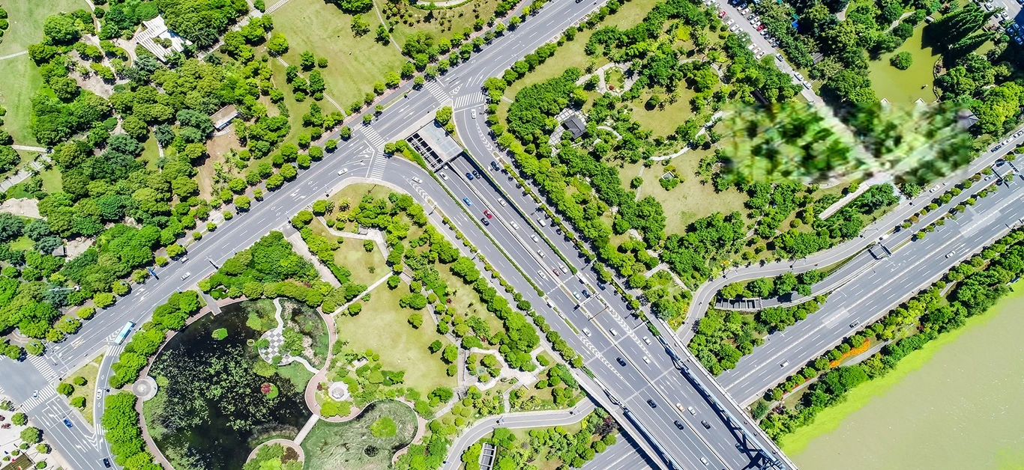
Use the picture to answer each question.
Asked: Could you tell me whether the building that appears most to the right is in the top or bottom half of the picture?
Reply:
top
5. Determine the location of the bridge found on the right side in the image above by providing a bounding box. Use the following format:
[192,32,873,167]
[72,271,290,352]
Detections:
[443,158,799,470]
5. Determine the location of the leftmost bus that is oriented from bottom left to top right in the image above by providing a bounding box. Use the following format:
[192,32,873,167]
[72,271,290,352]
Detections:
[113,321,133,345]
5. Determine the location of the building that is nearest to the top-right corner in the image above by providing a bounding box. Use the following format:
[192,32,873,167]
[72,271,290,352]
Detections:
[955,108,983,130]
